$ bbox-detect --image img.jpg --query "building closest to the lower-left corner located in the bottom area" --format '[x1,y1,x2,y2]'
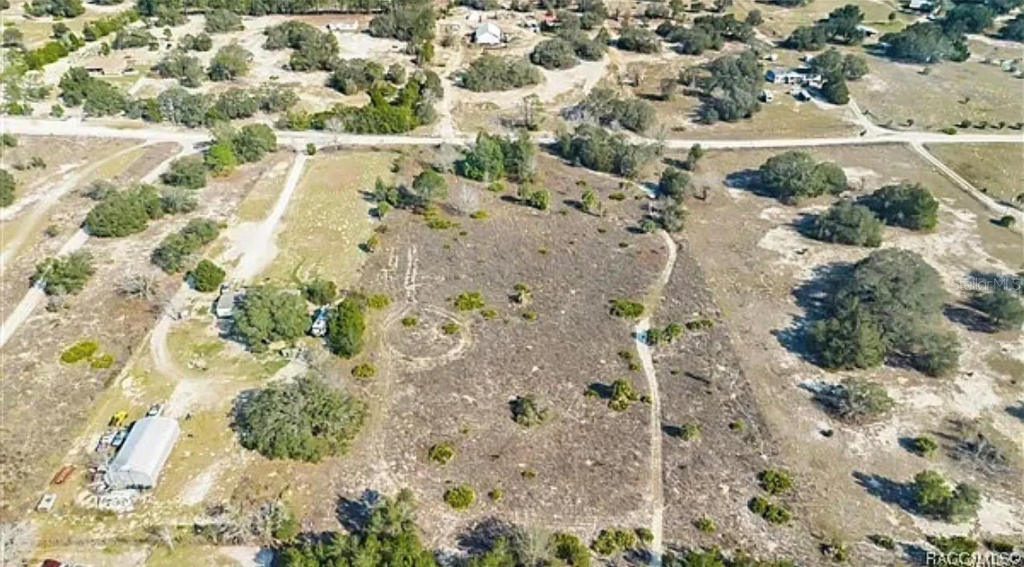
[102,421,183,489]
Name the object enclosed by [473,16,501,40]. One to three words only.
building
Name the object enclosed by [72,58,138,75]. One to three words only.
house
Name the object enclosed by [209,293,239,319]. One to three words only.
shed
